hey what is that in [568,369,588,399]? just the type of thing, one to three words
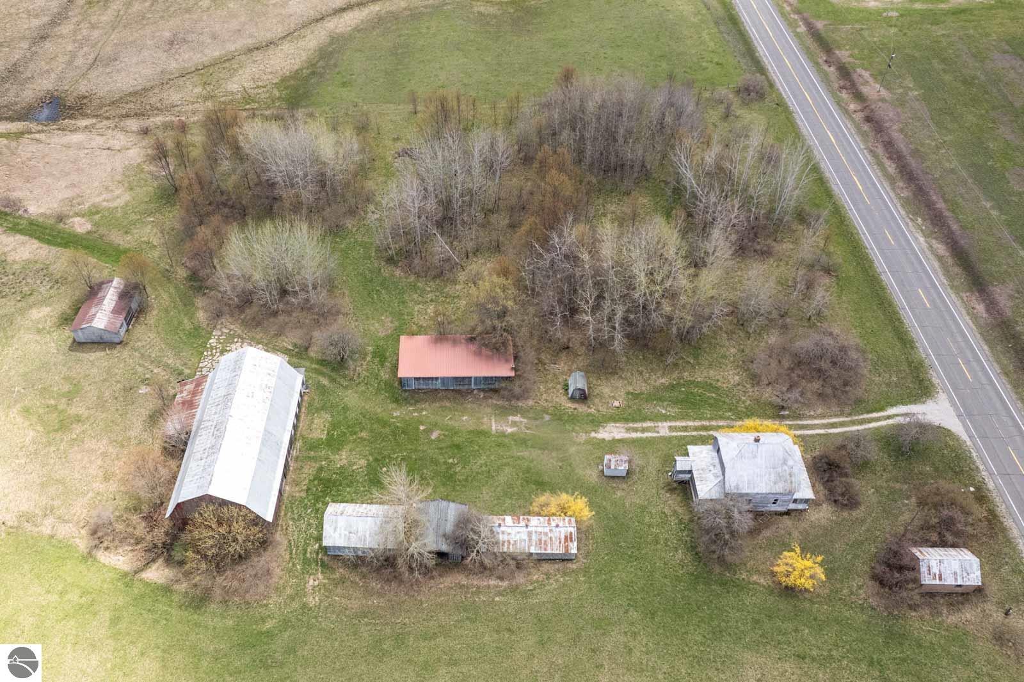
shed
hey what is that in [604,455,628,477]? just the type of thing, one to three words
shed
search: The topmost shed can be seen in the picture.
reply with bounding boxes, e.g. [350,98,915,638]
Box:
[71,276,144,343]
